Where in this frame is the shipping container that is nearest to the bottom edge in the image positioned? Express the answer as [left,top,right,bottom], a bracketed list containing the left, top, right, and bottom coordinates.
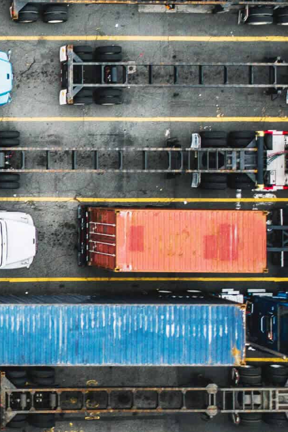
[0,295,246,366]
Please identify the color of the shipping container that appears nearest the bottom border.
blue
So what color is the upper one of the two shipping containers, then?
red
